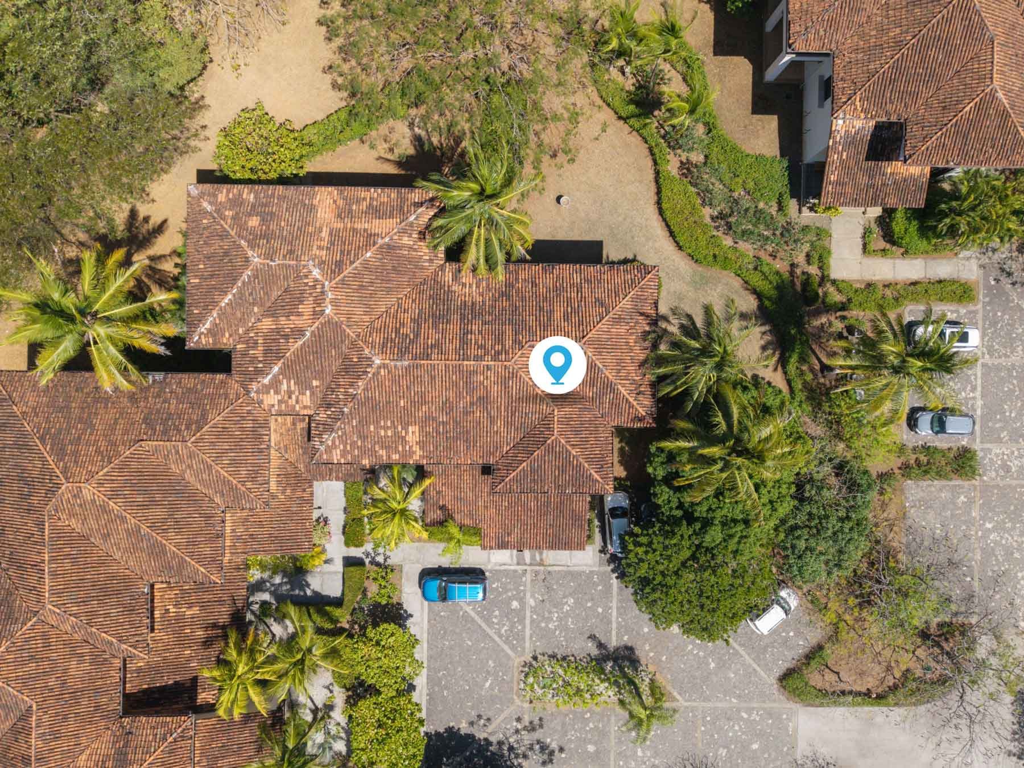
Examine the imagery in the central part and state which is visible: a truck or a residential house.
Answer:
residential house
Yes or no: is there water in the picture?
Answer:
No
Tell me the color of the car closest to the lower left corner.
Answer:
blue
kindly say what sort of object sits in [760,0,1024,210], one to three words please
house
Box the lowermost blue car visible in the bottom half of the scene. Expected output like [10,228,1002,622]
[424,572,489,606]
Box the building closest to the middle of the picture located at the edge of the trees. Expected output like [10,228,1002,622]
[185,184,660,551]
